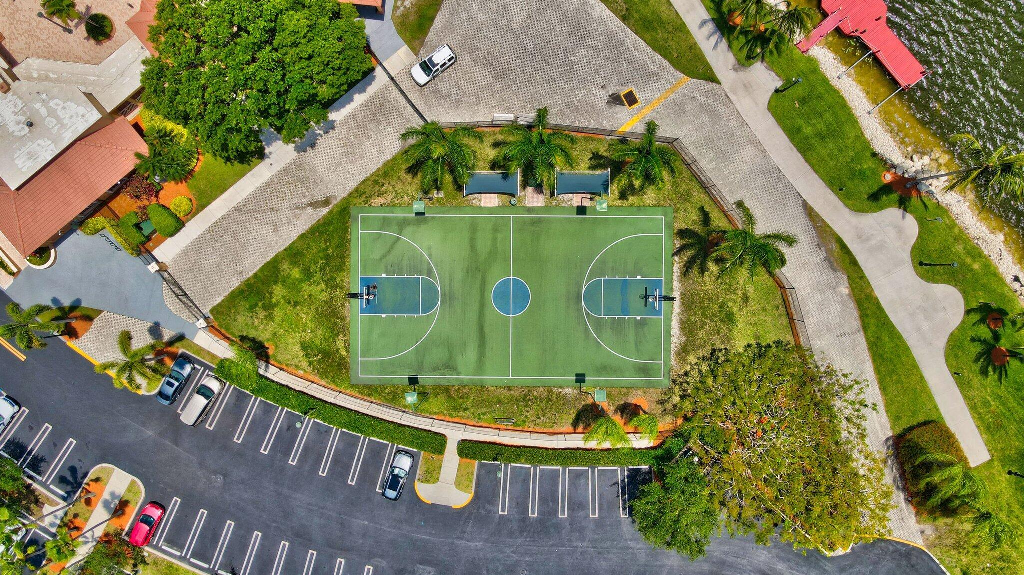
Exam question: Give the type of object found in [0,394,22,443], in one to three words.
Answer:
car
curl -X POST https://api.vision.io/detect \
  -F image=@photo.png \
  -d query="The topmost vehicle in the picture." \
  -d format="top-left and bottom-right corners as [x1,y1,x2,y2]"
[410,41,459,89]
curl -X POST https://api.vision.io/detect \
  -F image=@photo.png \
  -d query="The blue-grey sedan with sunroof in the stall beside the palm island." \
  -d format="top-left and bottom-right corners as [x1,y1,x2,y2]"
[156,354,196,406]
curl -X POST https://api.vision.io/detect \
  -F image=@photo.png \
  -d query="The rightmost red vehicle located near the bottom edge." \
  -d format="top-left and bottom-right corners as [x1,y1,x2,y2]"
[130,498,168,548]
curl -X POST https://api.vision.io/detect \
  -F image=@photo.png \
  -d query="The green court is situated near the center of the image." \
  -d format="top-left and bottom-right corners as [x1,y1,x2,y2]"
[351,207,674,388]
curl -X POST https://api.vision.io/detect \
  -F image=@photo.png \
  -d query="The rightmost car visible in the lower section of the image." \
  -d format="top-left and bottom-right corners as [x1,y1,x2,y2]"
[381,448,416,502]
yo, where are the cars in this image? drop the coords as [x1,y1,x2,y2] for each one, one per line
[0,394,22,443]
[178,373,226,429]
[156,354,196,406]
[130,498,168,548]
[381,448,416,502]
[410,41,459,89]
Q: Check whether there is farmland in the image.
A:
No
